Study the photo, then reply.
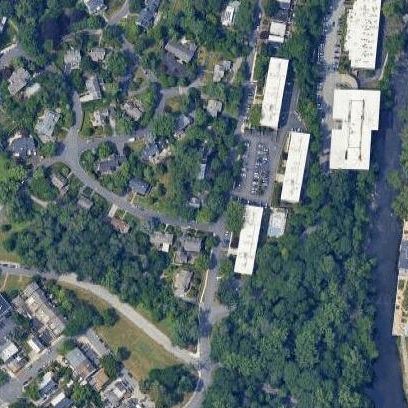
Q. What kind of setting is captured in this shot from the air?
residential area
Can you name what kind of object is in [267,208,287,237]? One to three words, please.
swimming pool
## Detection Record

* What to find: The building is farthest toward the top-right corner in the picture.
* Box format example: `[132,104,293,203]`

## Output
[345,0,382,71]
